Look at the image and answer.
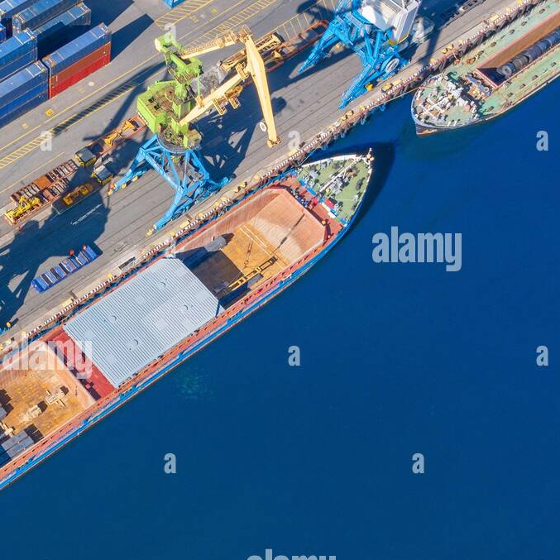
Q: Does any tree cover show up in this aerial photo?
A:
No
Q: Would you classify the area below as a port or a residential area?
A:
port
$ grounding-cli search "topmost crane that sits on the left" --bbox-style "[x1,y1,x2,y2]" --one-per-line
[102,21,278,238]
